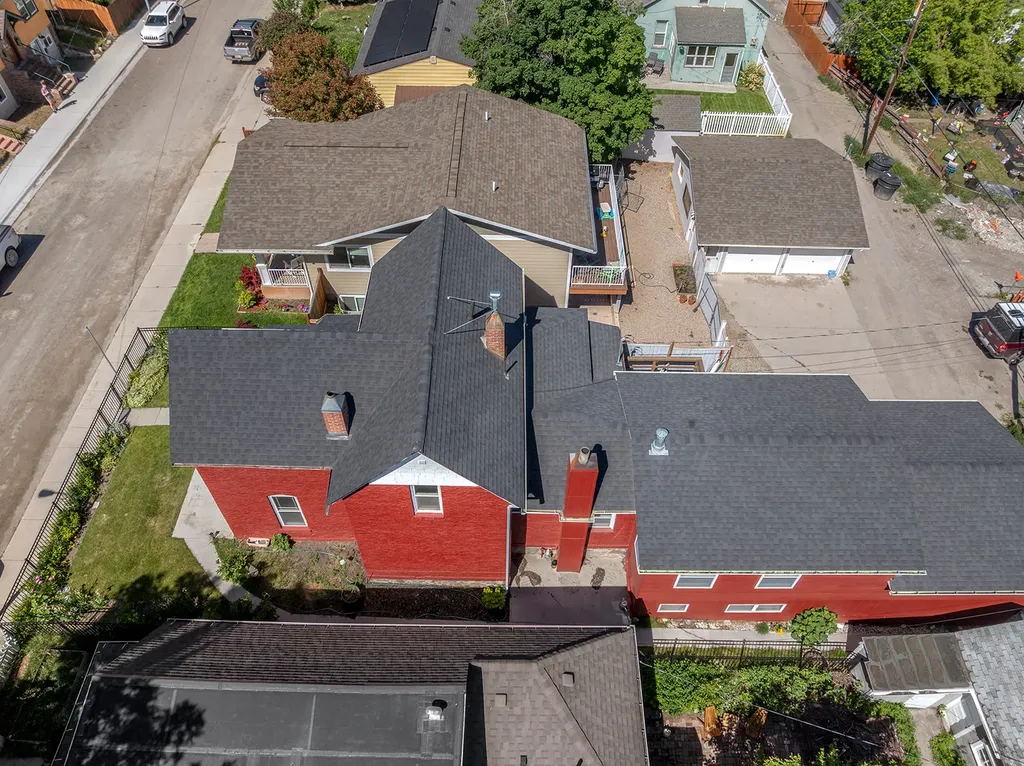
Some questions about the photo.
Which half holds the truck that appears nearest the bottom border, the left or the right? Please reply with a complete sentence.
It is on the right.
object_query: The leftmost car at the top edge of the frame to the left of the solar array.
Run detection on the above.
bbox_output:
[139,0,194,45]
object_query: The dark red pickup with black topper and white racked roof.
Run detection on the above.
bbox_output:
[972,299,1024,368]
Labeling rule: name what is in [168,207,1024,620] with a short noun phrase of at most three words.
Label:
house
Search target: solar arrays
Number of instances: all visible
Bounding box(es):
[365,0,433,64]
